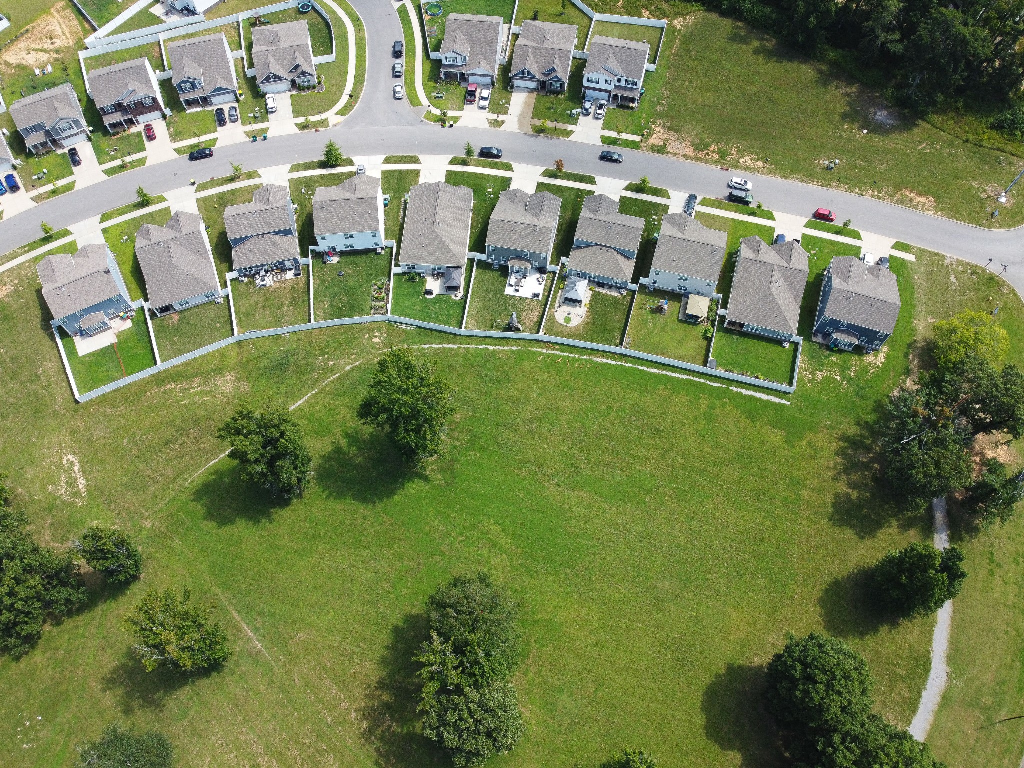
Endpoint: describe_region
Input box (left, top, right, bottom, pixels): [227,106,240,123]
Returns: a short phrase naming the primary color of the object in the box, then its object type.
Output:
gray vehicle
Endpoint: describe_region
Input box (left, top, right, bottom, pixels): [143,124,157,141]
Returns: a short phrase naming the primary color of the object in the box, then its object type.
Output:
red car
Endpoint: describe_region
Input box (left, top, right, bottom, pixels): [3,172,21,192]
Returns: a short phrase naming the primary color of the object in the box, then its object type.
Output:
blue car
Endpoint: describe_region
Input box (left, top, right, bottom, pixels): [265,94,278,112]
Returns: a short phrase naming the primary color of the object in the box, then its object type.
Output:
white vehicle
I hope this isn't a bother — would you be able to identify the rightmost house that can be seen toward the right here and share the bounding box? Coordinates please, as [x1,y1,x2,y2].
[813,257,901,353]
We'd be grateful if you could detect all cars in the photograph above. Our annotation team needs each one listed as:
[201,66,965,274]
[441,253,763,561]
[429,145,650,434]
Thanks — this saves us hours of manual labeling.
[3,172,21,192]
[813,206,838,222]
[227,106,240,123]
[582,98,594,115]
[728,187,755,205]
[143,124,157,141]
[478,144,503,158]
[394,83,404,99]
[862,251,876,264]
[265,94,278,112]
[878,254,892,268]
[600,150,625,163]
[595,100,607,118]
[684,194,698,214]
[355,162,367,176]
[215,109,228,126]
[67,148,82,166]
[393,60,403,76]
[188,146,214,162]
[479,90,490,108]
[393,40,404,56]
[729,177,752,191]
